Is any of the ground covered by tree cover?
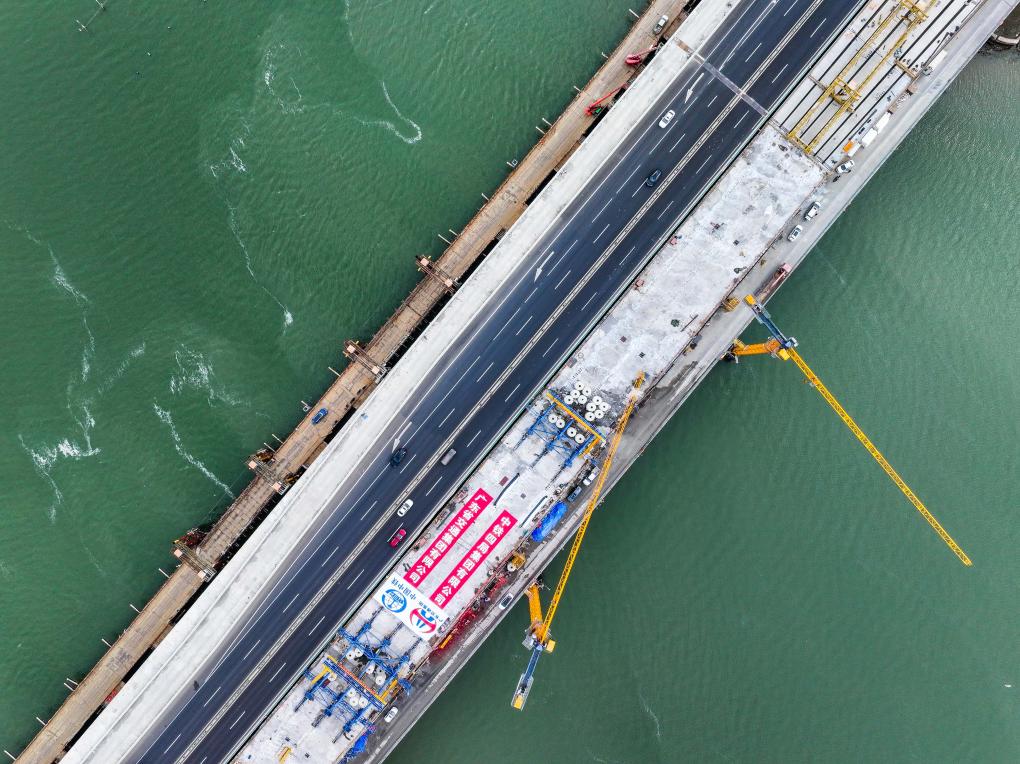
No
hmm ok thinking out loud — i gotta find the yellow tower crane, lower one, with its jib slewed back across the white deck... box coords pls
[512,377,642,707]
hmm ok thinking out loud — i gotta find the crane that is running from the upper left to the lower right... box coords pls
[722,293,974,566]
